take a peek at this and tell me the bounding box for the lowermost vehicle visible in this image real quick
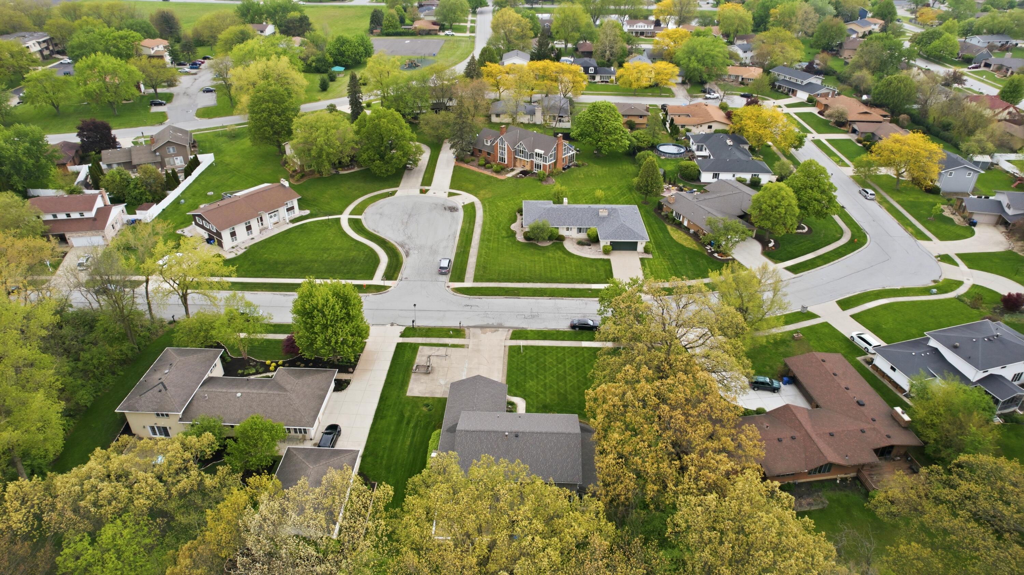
[315,423,344,448]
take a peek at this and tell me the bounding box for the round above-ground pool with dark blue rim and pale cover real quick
[654,145,689,163]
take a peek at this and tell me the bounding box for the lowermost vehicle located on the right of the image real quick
[748,377,783,396]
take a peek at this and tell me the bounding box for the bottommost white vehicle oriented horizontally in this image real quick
[847,333,885,353]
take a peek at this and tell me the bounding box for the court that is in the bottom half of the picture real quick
[406,346,468,397]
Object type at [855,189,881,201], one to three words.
vehicle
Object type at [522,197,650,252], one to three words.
house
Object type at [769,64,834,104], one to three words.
house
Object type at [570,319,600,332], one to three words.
vehicle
